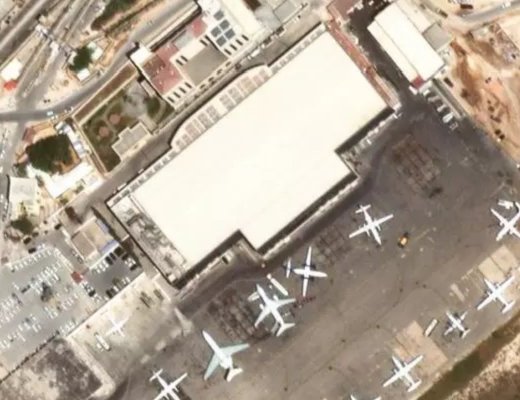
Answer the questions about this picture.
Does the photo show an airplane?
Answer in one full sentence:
Yes, an airplane appears in the view.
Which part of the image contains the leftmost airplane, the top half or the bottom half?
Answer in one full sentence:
The leftmost airplane sits in the bottom half of the picture.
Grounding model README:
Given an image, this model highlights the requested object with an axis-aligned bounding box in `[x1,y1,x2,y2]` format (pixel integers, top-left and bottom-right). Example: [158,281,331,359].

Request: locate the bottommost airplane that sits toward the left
[149,369,187,400]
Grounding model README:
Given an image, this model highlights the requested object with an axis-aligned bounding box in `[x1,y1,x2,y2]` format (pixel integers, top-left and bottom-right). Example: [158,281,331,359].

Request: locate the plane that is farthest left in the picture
[104,316,130,341]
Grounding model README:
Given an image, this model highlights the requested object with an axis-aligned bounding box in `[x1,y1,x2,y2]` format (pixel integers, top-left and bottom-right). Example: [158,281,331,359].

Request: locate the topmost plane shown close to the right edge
[493,201,520,240]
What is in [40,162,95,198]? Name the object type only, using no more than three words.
building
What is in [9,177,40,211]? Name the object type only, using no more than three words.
house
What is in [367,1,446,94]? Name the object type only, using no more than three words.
hangar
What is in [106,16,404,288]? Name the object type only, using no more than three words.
building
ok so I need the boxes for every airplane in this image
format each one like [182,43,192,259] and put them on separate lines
[149,369,187,400]
[104,316,130,341]
[443,312,470,338]
[493,201,520,240]
[382,355,424,392]
[349,204,393,245]
[477,276,515,313]
[257,284,296,335]
[285,248,328,297]
[202,330,248,383]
